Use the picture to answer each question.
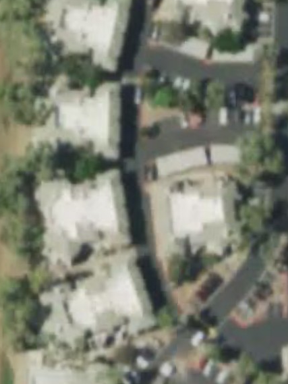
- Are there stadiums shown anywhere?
No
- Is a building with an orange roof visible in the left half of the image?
No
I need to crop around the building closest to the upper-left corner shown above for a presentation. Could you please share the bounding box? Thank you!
[46,0,133,71]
